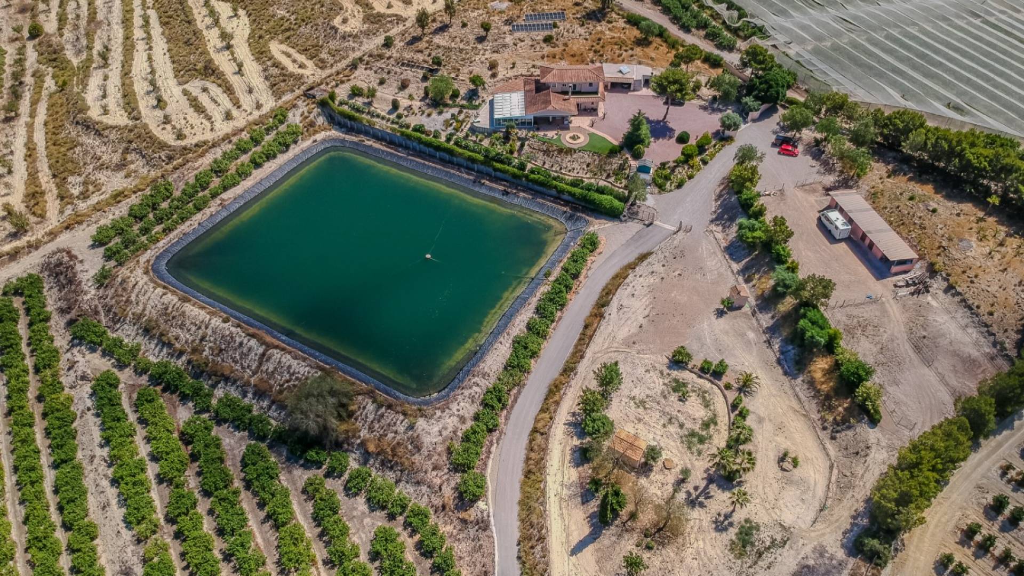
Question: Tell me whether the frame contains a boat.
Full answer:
No, no boat is visible in the scene.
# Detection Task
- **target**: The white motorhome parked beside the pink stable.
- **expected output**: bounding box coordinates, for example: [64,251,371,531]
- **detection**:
[820,205,853,238]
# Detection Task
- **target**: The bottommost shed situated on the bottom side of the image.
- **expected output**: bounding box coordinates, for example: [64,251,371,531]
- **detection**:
[610,434,648,470]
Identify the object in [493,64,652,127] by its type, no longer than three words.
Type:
house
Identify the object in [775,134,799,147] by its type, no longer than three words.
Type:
vehicle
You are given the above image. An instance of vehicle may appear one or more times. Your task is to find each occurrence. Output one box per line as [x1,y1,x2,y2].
[665,98,685,107]
[778,145,799,156]
[820,205,853,238]
[620,83,631,89]
[775,134,799,147]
